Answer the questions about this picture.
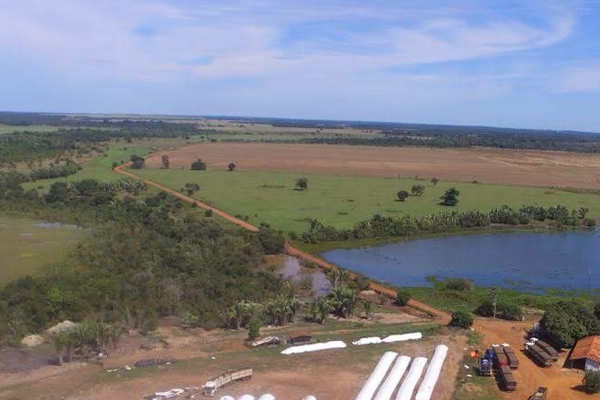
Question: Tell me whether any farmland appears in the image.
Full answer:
Yes, there is farmland in the image.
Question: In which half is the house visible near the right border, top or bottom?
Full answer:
Seen from above, the house visible near the right border lies in the bottom half of the view.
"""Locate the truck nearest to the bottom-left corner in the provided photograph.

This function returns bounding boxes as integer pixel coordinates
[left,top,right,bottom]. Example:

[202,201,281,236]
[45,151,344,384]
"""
[204,370,256,397]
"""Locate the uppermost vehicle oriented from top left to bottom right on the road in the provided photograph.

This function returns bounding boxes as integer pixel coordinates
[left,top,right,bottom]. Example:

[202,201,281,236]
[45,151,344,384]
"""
[531,325,549,345]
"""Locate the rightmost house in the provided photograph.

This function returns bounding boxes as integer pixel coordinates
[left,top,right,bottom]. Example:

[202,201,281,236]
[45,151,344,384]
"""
[569,338,600,374]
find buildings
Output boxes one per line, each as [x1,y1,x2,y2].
[569,338,600,374]
[287,335,313,345]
